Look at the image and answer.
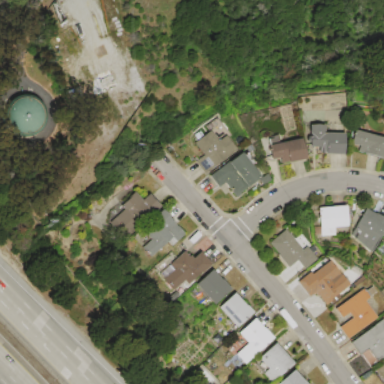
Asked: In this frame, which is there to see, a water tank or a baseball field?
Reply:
water tank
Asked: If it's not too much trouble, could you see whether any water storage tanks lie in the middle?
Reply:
No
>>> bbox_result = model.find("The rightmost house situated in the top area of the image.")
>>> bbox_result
[350,128,384,157]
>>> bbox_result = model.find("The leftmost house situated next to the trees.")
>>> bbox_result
[110,192,164,231]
